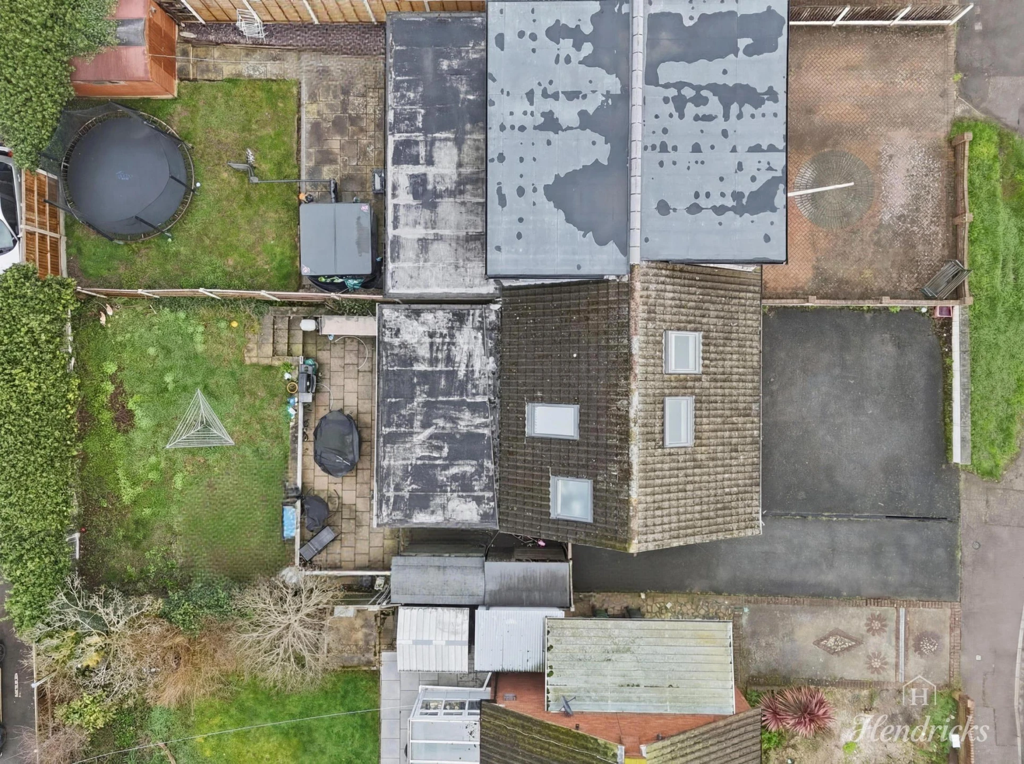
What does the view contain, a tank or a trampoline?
trampoline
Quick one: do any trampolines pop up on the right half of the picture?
No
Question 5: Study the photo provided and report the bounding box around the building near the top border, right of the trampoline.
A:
[385,0,790,304]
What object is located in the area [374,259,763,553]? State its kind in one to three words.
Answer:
house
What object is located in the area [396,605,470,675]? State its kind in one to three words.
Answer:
shed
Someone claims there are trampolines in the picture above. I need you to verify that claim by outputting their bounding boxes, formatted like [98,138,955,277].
[28,85,204,243]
